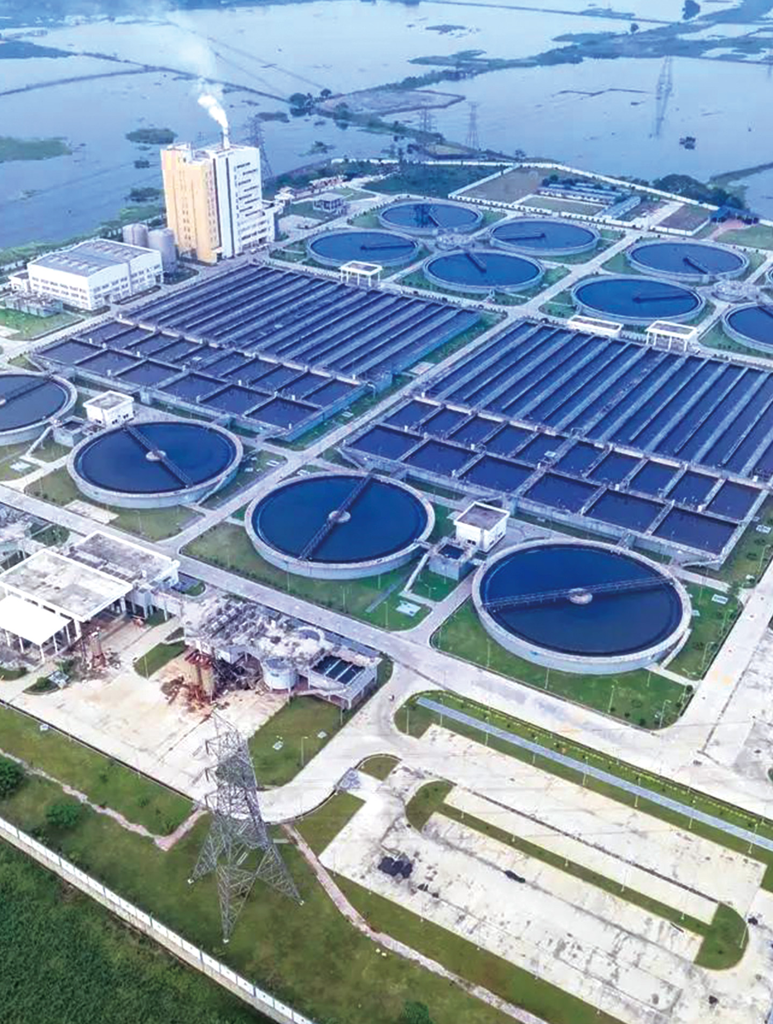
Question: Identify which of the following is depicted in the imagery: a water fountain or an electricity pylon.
electricity pylon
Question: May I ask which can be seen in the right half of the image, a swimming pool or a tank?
tank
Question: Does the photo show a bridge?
Yes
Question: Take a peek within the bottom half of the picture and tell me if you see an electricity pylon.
Yes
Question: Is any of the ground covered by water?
Yes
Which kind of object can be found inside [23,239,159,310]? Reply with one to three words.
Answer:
building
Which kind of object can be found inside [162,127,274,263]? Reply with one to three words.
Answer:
building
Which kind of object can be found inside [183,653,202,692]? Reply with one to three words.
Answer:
silo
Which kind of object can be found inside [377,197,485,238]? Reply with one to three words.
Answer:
storage tank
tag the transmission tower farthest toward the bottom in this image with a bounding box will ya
[184,710,306,943]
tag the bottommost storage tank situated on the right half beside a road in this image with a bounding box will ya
[476,535,693,675]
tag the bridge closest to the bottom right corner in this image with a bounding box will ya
[482,571,681,615]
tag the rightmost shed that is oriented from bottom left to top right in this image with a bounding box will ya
[603,194,644,224]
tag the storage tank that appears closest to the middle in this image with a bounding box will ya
[245,466,437,580]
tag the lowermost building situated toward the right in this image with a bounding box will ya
[453,500,507,556]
